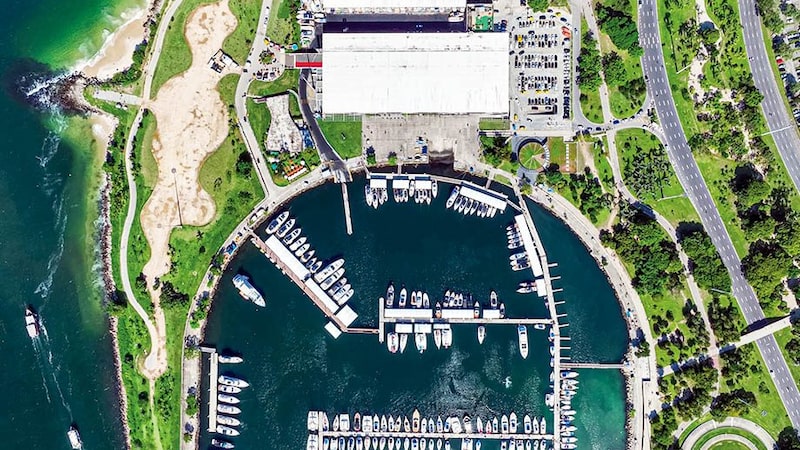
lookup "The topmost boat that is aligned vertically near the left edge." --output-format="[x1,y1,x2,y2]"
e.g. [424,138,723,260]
[27,308,40,339]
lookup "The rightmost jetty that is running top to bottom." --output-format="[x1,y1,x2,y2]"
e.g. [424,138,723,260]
[513,189,561,450]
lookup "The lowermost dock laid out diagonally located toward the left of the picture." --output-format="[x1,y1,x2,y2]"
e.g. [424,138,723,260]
[252,234,348,331]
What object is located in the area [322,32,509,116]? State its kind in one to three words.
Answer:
building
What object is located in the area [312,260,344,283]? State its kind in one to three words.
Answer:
boat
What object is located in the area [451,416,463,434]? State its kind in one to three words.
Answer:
boat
